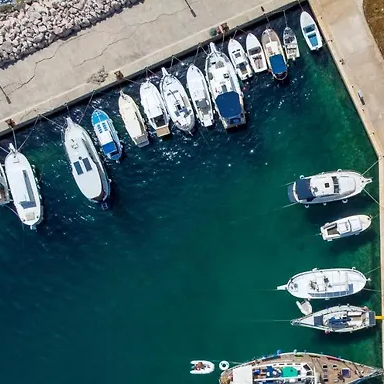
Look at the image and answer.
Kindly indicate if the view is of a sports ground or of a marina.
marina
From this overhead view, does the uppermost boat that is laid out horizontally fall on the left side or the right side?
right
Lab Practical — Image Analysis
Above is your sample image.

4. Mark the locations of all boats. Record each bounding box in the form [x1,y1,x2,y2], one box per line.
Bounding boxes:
[319,215,371,242]
[187,64,218,131]
[245,32,271,78]
[0,162,12,206]
[142,75,172,140]
[219,348,384,384]
[59,112,112,209]
[294,298,311,313]
[274,266,372,301]
[300,11,323,55]
[286,168,374,206]
[190,359,216,374]
[2,142,43,229]
[292,303,373,335]
[117,87,151,149]
[94,110,124,163]
[262,27,290,81]
[229,38,255,83]
[282,27,302,64]
[205,37,251,137]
